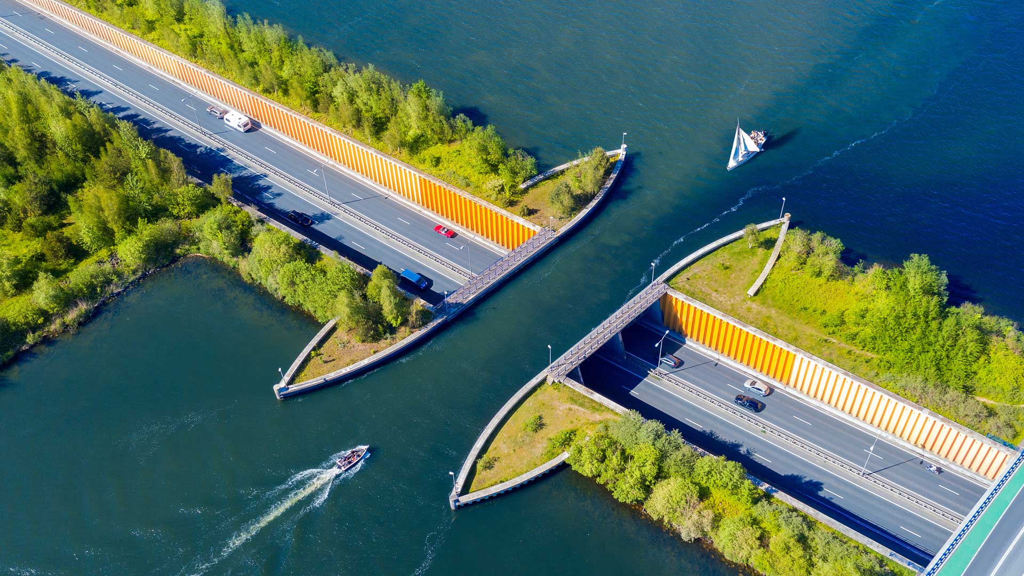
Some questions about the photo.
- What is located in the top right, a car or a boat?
boat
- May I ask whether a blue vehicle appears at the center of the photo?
Yes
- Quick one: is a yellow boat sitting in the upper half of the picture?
No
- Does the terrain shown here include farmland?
No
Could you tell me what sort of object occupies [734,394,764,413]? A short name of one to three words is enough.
car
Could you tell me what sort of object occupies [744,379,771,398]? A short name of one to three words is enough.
car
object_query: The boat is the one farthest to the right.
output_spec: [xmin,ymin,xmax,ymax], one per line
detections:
[728,117,769,172]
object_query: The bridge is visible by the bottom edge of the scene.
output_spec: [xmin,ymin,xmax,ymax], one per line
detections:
[920,441,1024,576]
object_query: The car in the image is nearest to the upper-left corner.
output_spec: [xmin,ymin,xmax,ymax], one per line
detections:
[208,107,227,120]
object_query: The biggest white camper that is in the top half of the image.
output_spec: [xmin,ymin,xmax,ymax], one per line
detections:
[227,110,253,131]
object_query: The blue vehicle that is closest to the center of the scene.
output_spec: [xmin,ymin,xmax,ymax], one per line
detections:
[400,268,429,291]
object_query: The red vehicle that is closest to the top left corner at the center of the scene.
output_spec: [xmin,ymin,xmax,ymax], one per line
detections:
[434,225,455,239]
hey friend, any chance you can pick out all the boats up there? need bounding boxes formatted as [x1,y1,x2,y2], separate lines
[728,117,769,172]
[334,445,369,474]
